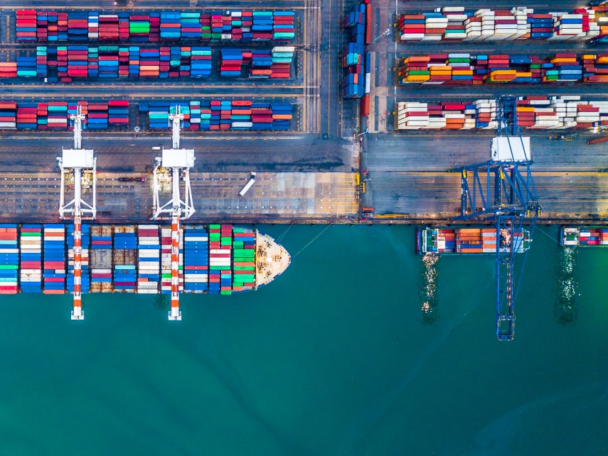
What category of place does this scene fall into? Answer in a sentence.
This looks like a port.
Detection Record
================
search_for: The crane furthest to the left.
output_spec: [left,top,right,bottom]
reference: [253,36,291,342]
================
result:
[56,102,102,320]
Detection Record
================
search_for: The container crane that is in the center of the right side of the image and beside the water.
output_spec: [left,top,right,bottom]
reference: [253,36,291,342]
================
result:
[447,94,542,341]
